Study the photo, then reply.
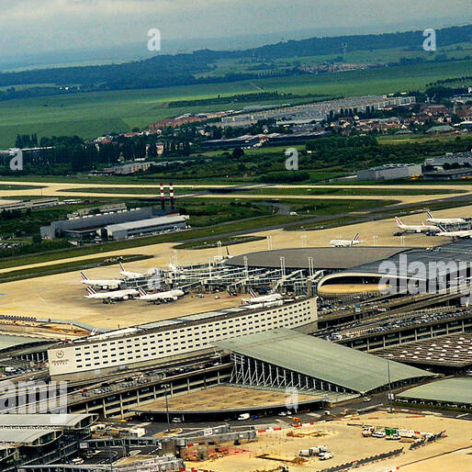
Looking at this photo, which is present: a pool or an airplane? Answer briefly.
airplane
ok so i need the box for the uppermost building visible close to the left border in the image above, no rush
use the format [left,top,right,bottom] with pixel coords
[0,140,63,157]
